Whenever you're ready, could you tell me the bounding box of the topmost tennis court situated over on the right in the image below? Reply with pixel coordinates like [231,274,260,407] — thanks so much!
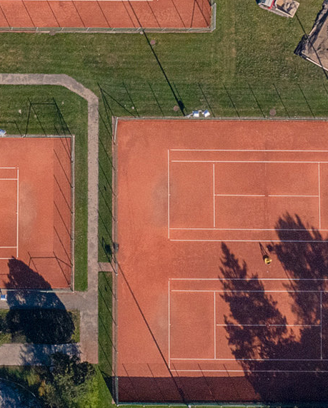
[116,119,328,260]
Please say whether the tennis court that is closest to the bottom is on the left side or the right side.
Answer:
right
